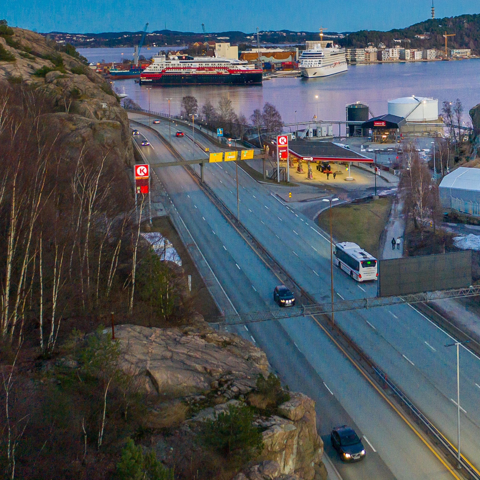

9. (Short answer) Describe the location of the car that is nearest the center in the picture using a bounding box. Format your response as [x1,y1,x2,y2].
[273,283,295,305]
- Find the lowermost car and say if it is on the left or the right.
right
